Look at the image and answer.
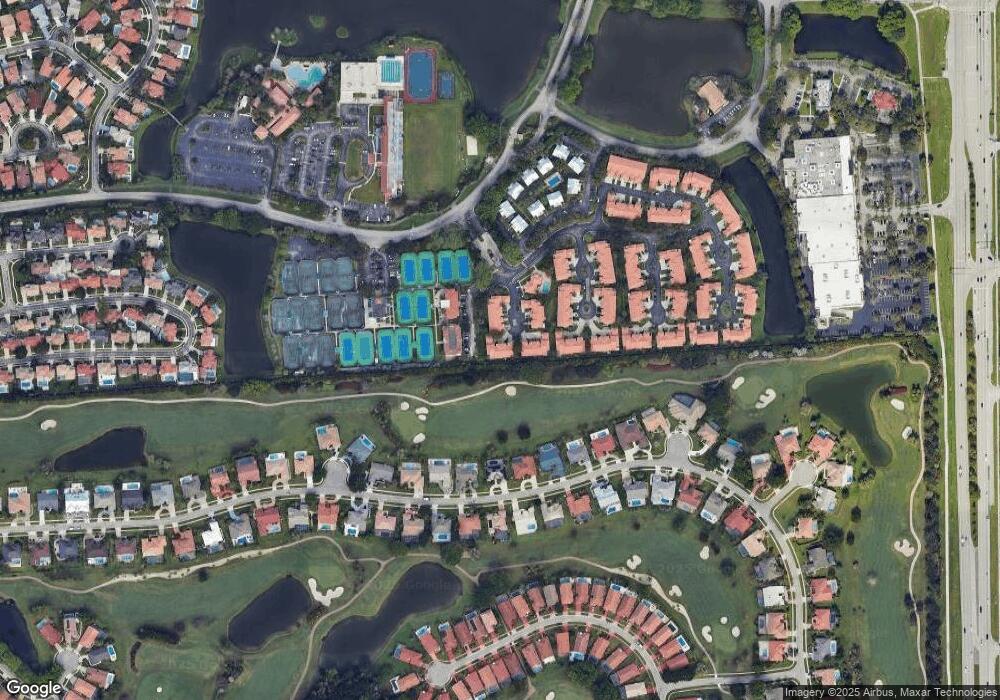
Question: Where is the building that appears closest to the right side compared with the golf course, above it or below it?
above it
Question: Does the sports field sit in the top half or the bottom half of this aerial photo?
top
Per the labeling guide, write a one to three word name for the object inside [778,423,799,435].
swimming pool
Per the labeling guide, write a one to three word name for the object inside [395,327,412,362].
tennis court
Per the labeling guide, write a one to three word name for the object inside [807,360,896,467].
pond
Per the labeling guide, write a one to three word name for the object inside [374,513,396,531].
house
